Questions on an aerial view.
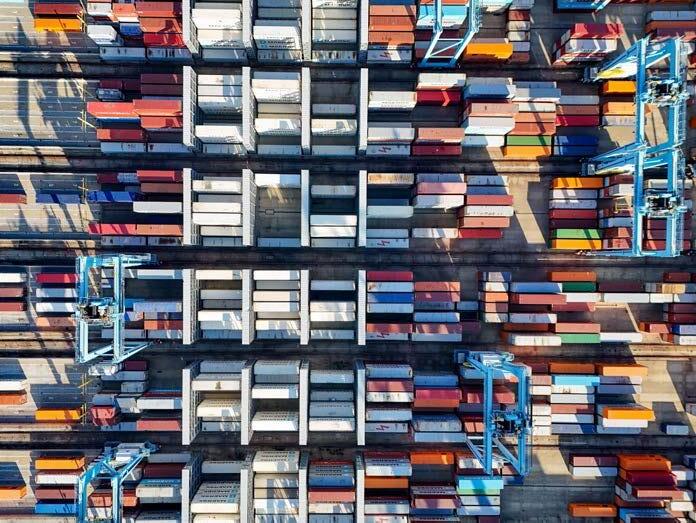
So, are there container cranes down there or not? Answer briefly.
Yes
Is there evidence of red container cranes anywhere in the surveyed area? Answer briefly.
No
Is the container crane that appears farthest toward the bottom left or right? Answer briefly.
left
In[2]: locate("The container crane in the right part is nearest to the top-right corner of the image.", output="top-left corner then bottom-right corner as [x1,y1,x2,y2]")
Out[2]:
[580,38,689,165]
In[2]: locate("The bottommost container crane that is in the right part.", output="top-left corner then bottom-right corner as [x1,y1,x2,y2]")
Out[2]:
[456,347,536,473]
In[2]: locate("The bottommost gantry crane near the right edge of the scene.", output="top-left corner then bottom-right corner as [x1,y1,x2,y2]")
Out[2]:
[579,149,689,257]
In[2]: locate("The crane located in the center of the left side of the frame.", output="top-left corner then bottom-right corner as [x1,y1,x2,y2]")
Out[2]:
[72,250,163,362]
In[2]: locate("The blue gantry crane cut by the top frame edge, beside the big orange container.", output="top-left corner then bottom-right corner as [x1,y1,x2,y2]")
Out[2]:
[412,0,485,71]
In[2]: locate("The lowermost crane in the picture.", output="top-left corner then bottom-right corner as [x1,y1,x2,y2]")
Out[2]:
[71,439,160,523]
